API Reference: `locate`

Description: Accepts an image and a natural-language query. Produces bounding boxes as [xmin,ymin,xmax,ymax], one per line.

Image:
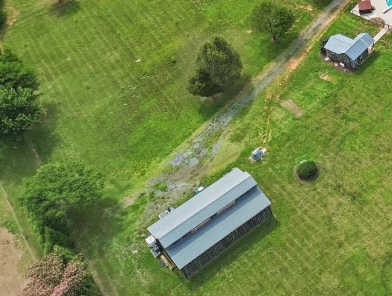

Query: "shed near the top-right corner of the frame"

[325,33,375,68]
